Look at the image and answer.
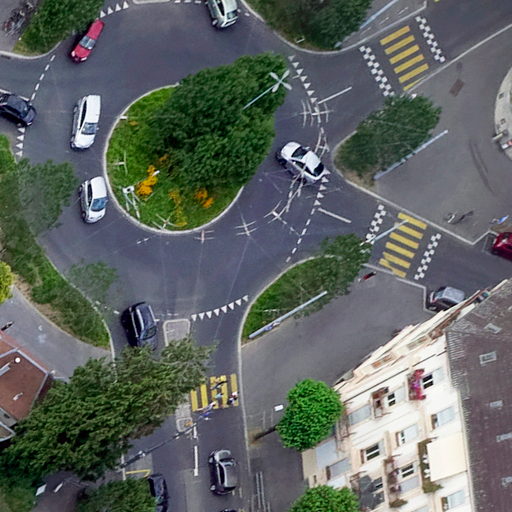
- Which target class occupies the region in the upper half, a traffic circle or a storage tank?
traffic circle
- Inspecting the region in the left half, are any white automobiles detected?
Yes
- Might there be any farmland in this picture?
No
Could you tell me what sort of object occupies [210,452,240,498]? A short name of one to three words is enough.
car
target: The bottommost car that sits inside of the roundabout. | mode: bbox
[80,176,109,220]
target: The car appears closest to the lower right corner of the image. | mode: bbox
[422,278,464,308]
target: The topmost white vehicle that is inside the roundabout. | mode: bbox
[71,96,100,147]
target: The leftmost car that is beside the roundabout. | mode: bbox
[0,86,38,126]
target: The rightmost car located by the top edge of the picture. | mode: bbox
[204,0,240,28]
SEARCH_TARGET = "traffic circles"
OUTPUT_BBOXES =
[38,19,318,299]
